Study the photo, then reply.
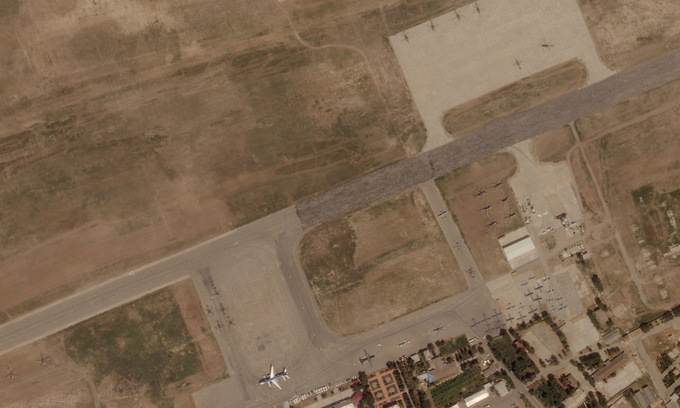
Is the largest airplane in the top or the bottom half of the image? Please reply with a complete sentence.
It is in the bottom half that the largest airplane appears.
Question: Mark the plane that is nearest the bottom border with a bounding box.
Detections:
[260,367,289,391]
